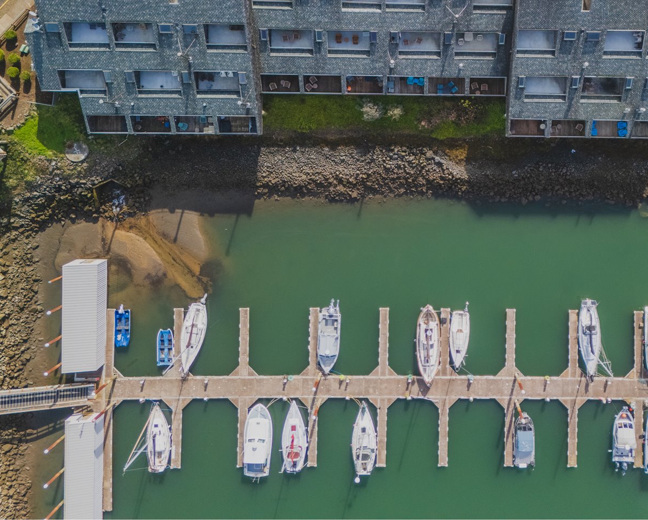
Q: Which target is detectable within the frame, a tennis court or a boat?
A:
boat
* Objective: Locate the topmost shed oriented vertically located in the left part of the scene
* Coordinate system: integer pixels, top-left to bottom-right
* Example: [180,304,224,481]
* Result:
[62,262,111,373]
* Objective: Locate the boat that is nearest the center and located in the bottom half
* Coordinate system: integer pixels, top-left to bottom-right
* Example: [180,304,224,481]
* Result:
[317,298,342,378]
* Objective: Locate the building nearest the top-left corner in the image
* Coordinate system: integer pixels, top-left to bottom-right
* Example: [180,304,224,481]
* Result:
[25,0,271,135]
